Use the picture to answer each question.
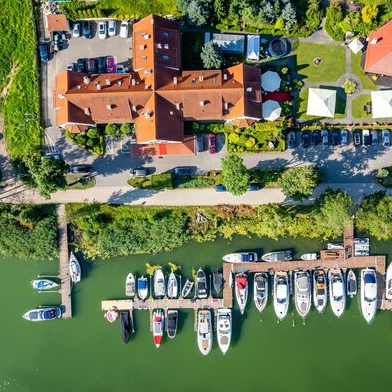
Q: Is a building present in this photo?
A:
Yes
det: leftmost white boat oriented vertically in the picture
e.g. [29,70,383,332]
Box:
[66,252,83,285]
